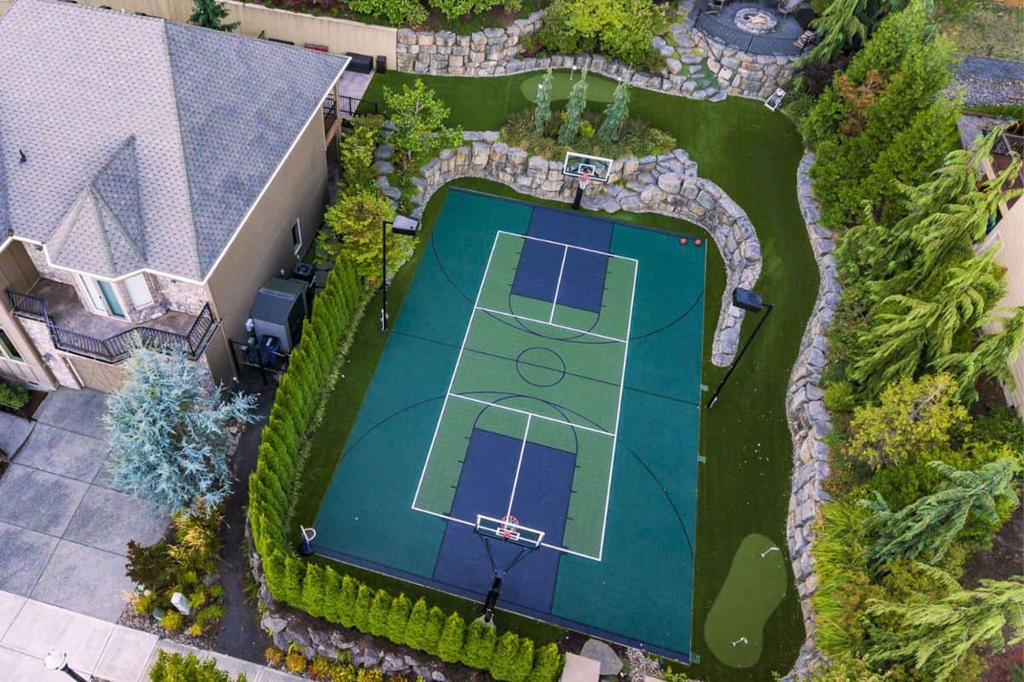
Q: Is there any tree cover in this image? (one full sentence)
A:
Yes, there's tree cover in this view.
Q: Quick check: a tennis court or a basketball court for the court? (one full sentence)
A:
The court can be classified as a basketball court.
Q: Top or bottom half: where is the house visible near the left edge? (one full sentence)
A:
The house visible near the left edge is in the top half of the image.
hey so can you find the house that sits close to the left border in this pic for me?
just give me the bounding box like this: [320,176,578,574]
[0,0,351,408]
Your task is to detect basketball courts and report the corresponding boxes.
[313,188,709,665]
